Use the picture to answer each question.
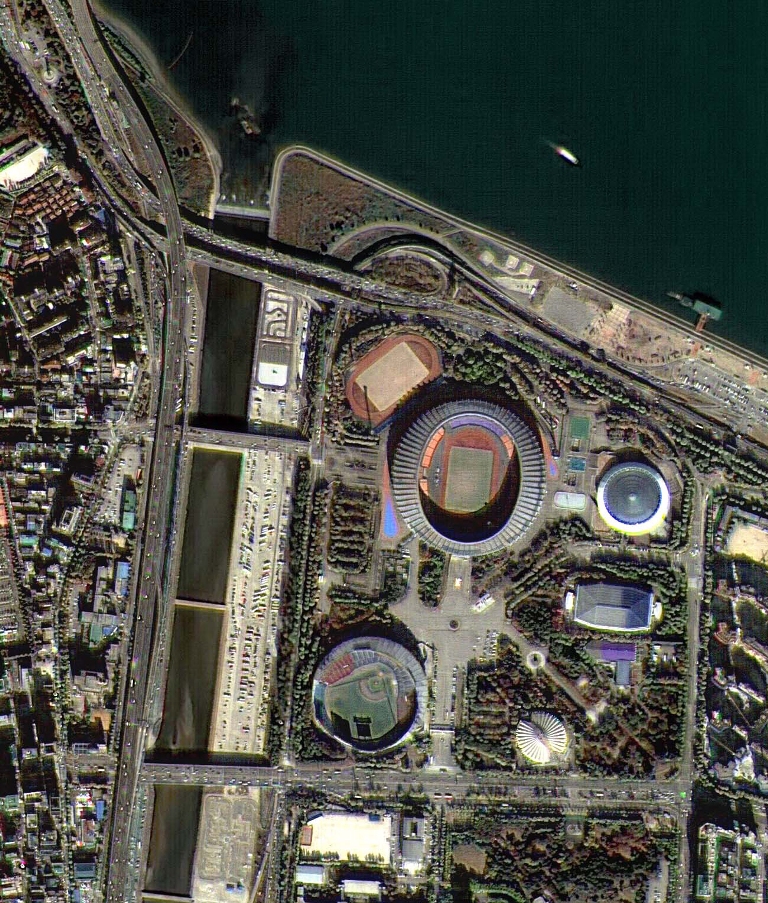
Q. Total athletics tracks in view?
2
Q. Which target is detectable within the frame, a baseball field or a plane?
baseball field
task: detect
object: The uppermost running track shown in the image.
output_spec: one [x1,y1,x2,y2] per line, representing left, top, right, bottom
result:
[346,333,439,420]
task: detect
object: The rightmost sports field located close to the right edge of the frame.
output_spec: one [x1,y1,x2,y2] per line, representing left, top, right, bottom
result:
[729,523,768,563]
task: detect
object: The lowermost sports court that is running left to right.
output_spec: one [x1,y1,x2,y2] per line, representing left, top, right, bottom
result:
[555,492,586,509]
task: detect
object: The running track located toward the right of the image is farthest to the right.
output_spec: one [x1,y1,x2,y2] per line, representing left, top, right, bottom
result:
[438,429,502,526]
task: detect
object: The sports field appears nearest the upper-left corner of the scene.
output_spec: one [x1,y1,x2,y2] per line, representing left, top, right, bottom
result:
[0,147,48,185]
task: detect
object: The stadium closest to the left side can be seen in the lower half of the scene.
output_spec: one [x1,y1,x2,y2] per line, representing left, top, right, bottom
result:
[312,638,428,754]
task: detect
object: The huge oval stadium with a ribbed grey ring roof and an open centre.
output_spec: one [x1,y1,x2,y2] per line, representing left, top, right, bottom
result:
[392,401,544,556]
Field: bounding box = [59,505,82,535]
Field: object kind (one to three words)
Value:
building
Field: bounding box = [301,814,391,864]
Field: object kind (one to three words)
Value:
sports field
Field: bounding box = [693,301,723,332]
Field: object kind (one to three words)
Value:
pier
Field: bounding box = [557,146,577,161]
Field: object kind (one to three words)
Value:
vessel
